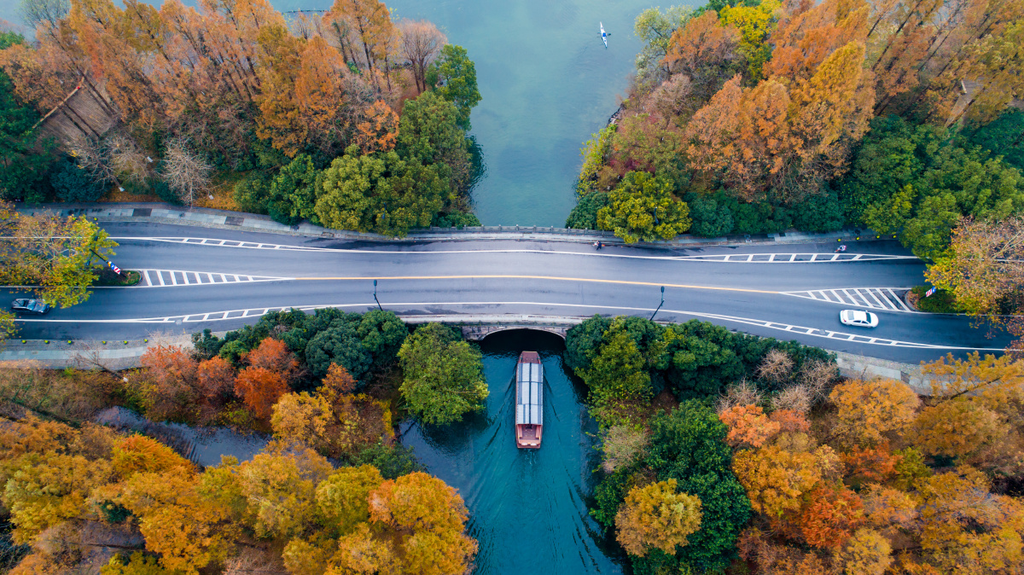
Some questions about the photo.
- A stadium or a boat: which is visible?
boat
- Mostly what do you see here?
trees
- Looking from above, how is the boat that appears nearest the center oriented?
from top to bottom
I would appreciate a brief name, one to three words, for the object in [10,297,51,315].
car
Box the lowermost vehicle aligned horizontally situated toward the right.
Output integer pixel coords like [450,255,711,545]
[839,310,878,327]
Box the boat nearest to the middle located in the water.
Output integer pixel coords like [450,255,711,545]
[516,351,542,450]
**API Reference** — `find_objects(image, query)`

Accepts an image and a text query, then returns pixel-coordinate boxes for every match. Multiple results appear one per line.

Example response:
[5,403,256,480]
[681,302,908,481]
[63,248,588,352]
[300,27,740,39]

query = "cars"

[839,310,878,327]
[10,297,51,315]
